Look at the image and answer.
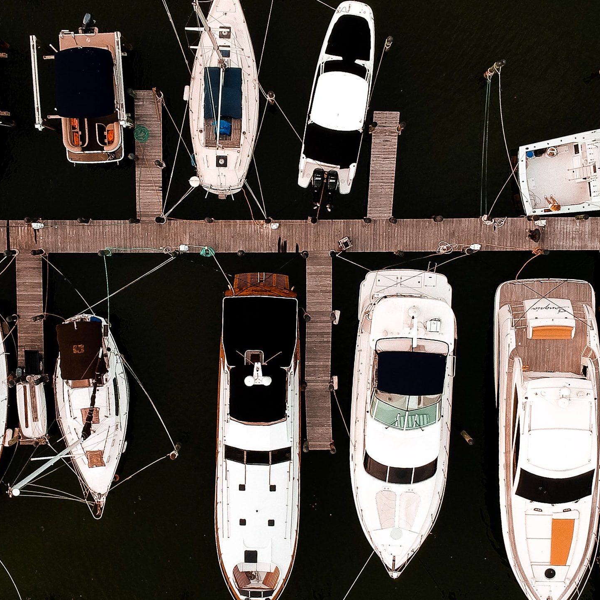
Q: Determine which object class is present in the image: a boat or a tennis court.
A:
boat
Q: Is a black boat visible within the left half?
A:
Yes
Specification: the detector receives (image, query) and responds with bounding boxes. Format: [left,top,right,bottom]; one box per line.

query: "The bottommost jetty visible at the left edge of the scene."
[16,253,48,444]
